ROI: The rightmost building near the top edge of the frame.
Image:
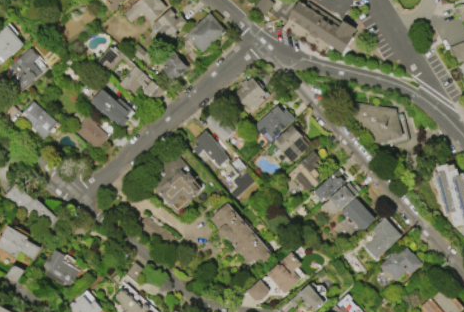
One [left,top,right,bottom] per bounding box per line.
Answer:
[286,0,362,53]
